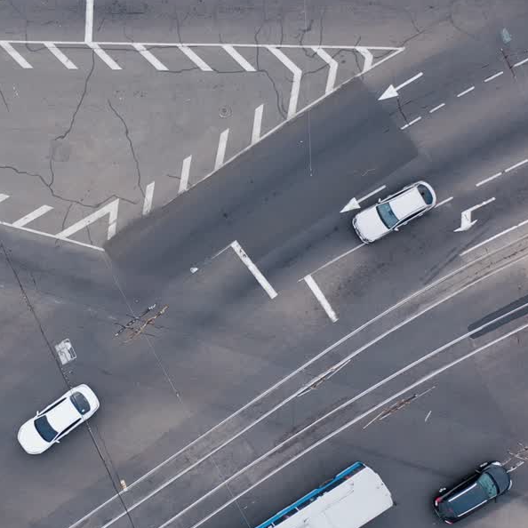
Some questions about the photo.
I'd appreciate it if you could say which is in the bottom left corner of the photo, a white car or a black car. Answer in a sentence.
There is a white car in the bottom left corner of the photo.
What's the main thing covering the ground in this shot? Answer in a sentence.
The scene is dominated by paved ground.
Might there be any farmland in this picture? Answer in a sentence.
No, farmland can't be seen anywhere here.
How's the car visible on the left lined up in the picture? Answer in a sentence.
I'd say the car visible on the left is aligned at an angle in the picture.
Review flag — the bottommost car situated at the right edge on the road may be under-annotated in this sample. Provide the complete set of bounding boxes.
[430,462,506,525]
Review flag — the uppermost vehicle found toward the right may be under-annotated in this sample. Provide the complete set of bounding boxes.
[351,183,435,245]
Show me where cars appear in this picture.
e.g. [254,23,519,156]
[351,183,435,245]
[18,386,99,454]
[430,462,506,525]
